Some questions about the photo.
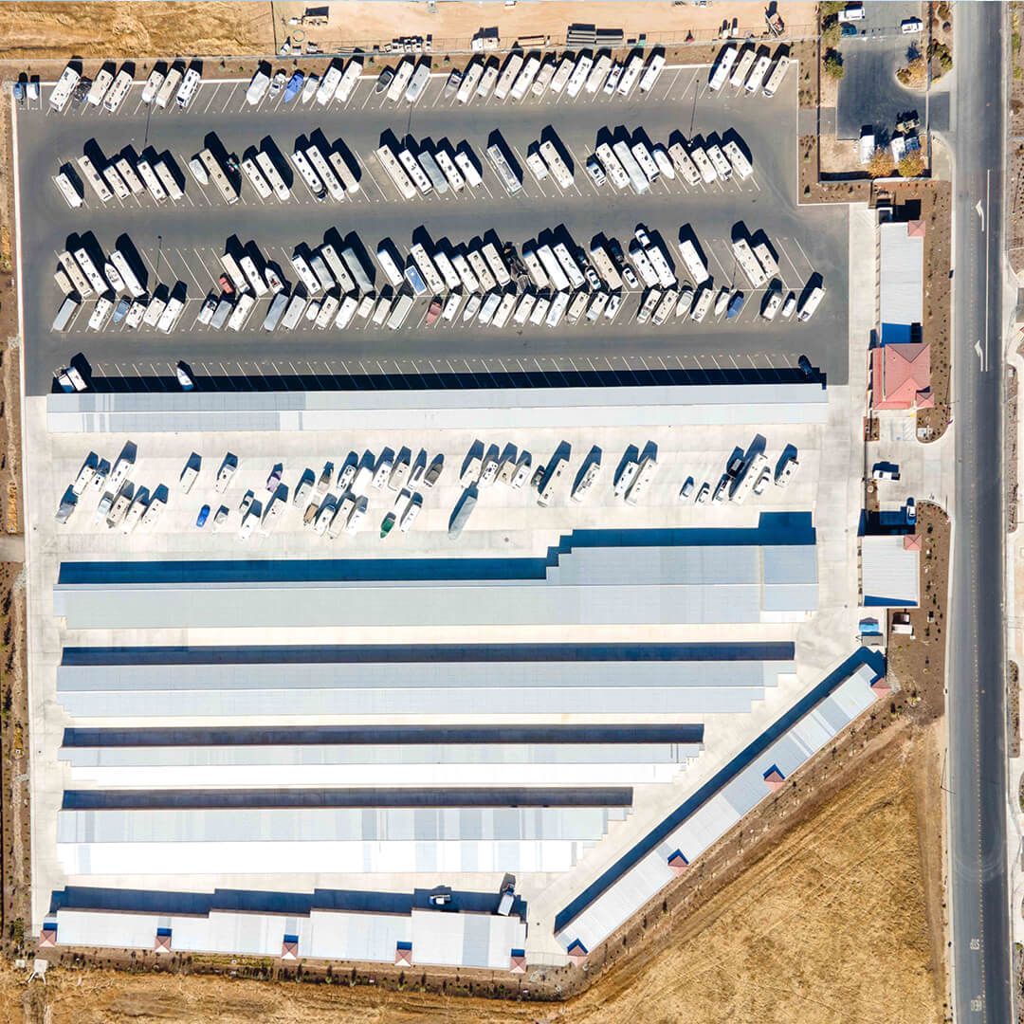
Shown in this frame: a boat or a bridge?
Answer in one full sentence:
The image shows a boat.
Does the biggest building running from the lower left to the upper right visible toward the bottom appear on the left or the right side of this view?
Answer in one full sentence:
The biggest building running from the lower left to the upper right visible toward the bottom sits on the right side.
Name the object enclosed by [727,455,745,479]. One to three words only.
vehicle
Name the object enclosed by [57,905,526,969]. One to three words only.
building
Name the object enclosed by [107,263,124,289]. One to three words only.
boat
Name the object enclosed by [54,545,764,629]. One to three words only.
building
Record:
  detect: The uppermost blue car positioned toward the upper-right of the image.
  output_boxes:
[839,25,858,37]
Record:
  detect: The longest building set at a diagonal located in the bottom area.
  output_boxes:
[556,665,889,958]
